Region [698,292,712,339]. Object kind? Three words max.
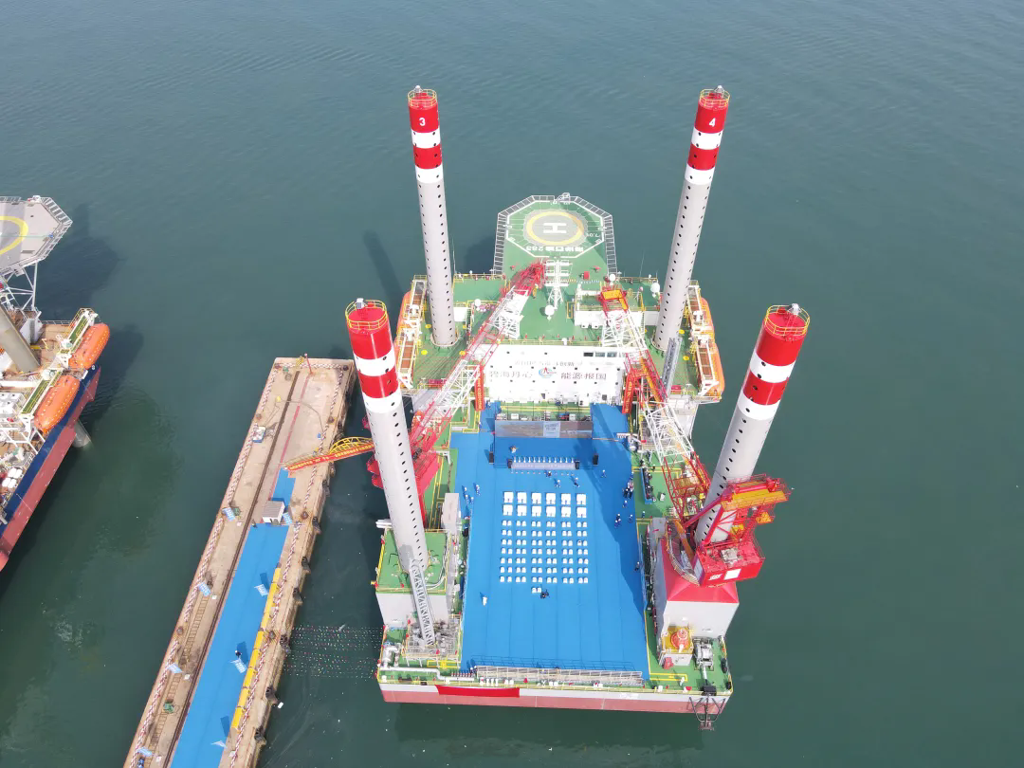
boat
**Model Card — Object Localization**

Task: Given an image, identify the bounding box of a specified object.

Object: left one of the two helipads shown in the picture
[0,196,74,319]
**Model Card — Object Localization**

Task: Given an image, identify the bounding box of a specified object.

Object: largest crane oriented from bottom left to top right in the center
[358,257,550,528]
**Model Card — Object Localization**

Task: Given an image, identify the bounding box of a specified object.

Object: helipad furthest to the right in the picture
[489,189,627,290]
